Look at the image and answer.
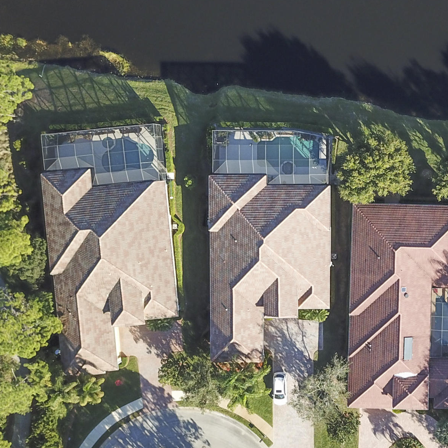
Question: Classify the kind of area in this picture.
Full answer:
The area seen from above is a residential area.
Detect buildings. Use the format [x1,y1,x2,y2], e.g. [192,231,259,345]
[207,175,332,364]
[347,203,448,411]
[38,169,181,377]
